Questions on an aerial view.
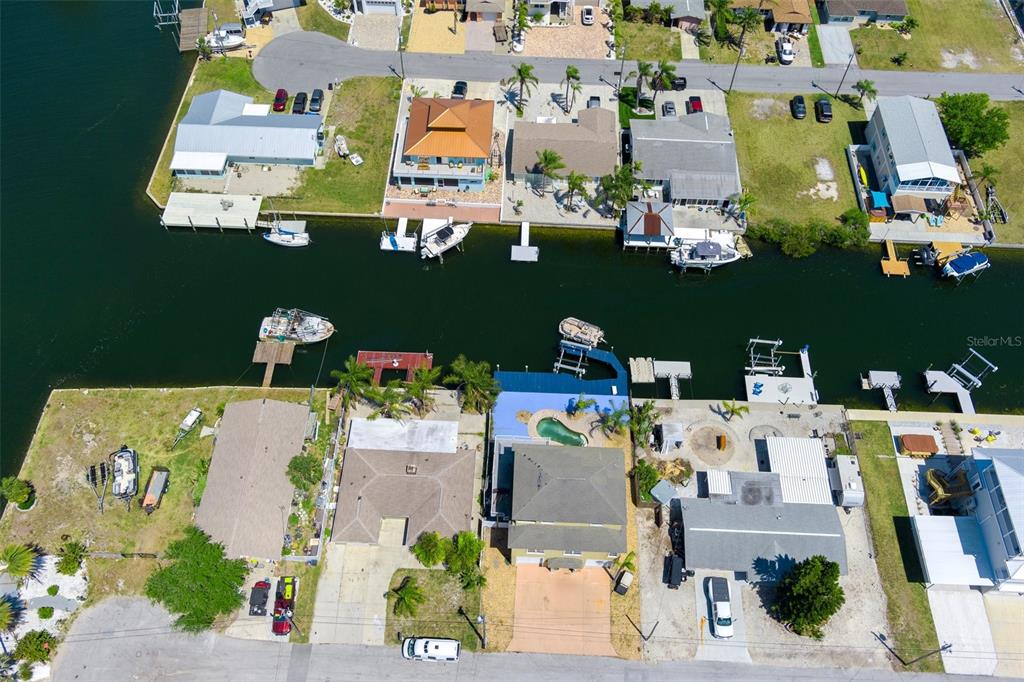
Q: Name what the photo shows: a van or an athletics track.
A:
van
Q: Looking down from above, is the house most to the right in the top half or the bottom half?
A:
bottom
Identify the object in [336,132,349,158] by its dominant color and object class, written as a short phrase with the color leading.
white boat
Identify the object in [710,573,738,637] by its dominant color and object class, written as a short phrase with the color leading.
white truck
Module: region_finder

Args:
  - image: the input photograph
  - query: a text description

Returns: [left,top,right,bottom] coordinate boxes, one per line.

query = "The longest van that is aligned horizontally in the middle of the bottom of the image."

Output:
[400,633,461,661]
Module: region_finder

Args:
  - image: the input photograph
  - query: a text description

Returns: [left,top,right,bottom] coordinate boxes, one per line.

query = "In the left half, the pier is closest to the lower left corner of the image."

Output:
[250,338,298,386]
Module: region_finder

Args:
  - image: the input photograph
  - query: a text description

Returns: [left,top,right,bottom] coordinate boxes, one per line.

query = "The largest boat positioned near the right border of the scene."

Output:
[938,252,995,277]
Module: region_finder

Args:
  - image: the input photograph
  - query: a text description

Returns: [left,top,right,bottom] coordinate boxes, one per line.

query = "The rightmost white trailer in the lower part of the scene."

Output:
[827,455,864,514]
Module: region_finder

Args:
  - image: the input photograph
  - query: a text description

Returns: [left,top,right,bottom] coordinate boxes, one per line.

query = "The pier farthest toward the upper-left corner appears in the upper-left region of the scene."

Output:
[177,4,208,57]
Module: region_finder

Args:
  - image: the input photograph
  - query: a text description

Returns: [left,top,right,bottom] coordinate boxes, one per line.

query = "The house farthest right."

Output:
[952,448,1024,594]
